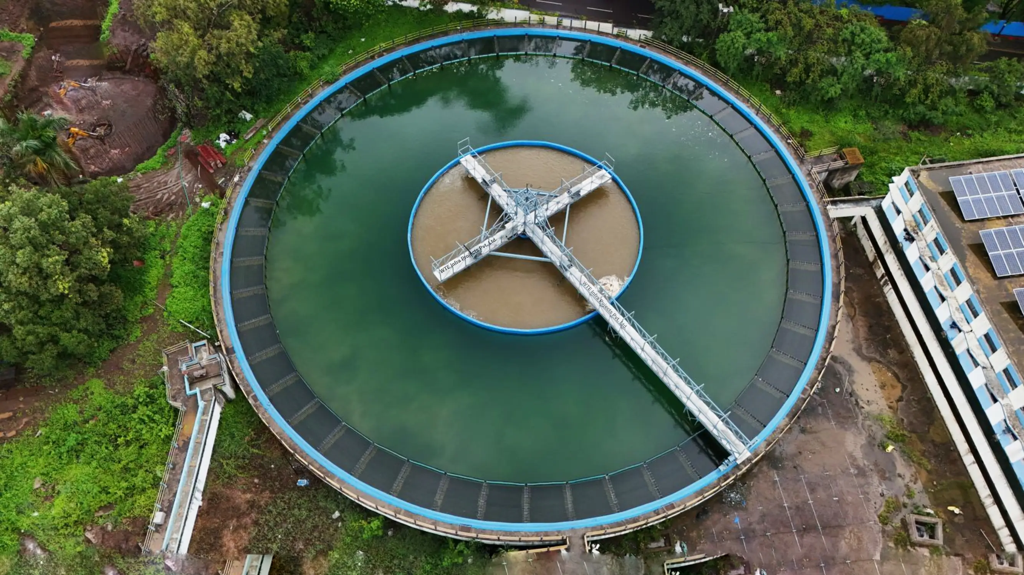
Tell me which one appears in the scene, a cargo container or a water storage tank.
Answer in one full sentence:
It is a water storage tank that can be seen here.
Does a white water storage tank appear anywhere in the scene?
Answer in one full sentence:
No, there is no white water storage tank in the image.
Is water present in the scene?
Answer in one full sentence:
Yes, there is water in the image.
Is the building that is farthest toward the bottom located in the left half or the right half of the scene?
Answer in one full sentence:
You can find the building that is farthest toward the bottom on the right side of the picture.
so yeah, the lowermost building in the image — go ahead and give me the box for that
[884,152,1024,484]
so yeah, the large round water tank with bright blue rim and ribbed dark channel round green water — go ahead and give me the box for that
[210,23,844,553]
